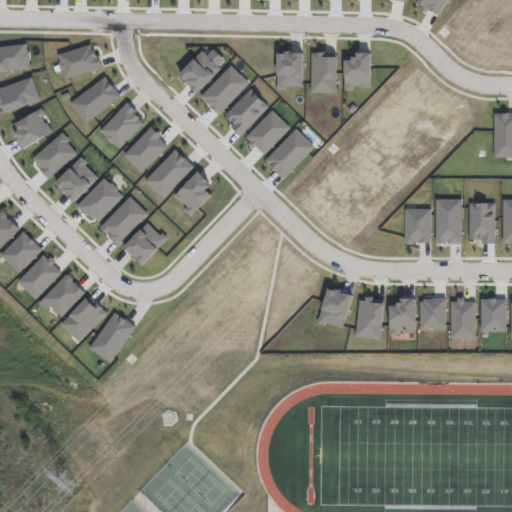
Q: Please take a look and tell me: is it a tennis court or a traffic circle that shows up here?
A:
tennis court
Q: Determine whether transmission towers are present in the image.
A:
Yes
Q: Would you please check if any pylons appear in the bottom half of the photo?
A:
Yes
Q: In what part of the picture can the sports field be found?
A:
bottom right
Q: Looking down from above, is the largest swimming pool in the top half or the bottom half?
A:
top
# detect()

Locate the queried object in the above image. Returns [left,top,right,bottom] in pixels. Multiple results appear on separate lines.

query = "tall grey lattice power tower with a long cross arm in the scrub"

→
[44,466,82,496]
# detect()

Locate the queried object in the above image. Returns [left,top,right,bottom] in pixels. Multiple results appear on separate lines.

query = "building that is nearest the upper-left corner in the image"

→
[0,42,30,74]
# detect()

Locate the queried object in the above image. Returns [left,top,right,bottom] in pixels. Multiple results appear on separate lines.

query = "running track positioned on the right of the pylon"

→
[257,382,512,512]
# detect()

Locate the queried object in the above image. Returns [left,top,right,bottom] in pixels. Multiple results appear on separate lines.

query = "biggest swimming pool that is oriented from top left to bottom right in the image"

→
[302,126,324,148]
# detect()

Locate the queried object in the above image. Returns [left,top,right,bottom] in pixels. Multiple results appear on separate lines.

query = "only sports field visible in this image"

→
[270,395,512,512]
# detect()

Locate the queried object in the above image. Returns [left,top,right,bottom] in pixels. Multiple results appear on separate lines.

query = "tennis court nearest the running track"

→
[164,444,240,512]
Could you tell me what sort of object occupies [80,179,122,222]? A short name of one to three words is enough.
house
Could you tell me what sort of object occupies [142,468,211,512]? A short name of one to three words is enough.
tennis court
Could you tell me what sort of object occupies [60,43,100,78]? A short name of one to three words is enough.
house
